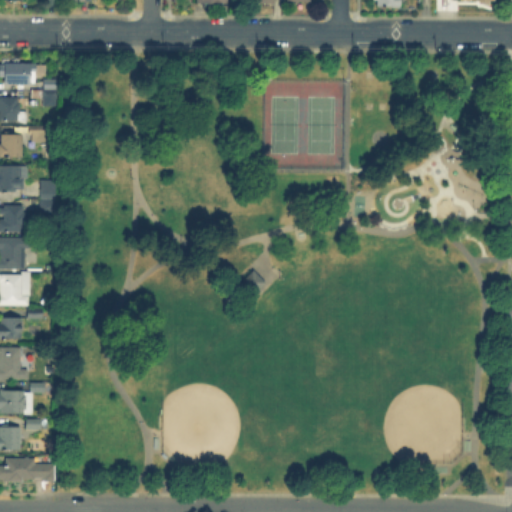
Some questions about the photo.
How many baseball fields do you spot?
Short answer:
2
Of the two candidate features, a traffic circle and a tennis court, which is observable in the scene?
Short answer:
tennis court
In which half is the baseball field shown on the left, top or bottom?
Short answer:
bottom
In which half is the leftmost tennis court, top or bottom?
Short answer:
top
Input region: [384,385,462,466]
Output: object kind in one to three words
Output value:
baseball field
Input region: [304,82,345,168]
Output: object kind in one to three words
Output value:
tennis court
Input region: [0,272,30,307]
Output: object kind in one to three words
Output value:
house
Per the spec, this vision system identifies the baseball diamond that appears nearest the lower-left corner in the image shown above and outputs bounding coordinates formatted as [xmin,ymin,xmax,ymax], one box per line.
[164,384,241,470]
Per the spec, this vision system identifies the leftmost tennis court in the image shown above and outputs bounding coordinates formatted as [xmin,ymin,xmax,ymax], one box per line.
[264,82,304,168]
